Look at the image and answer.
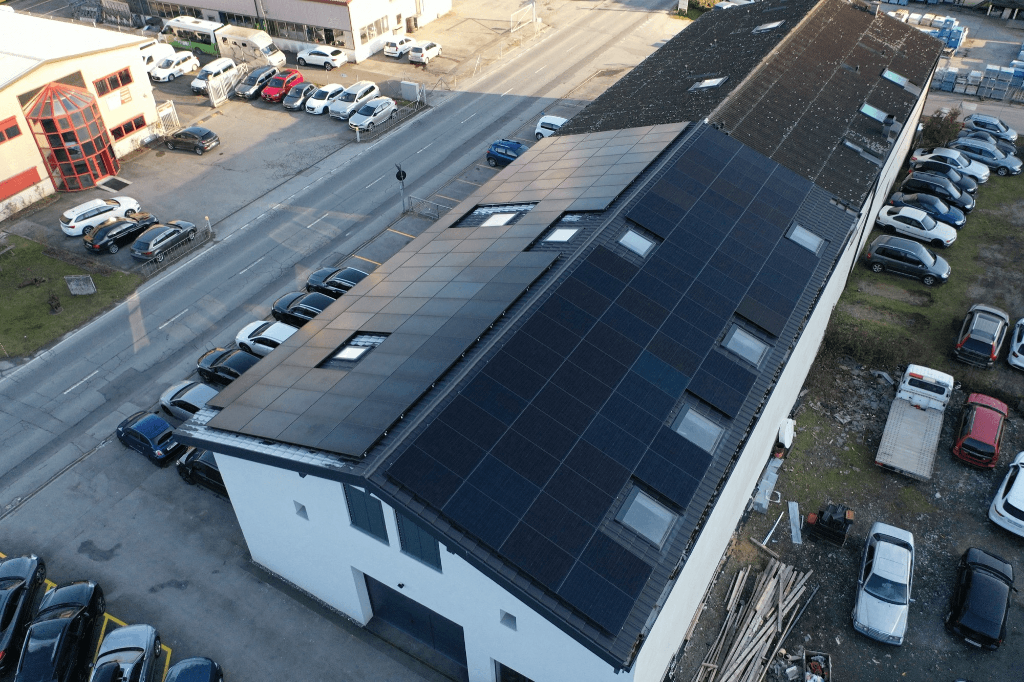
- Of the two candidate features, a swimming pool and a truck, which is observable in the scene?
truck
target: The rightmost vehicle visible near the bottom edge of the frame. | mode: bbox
[948,547,1022,650]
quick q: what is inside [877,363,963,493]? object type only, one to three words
truck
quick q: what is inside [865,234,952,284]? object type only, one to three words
car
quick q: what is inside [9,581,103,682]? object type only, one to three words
car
